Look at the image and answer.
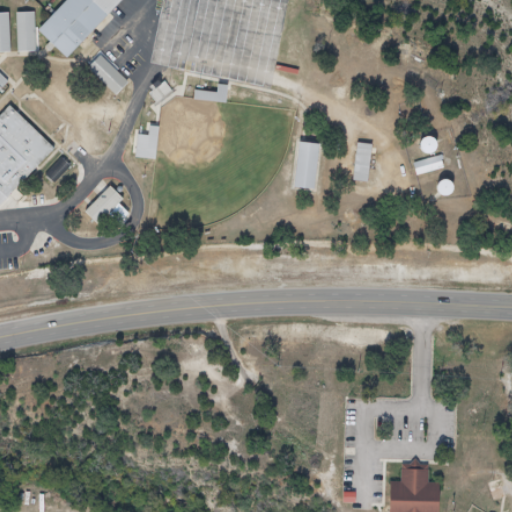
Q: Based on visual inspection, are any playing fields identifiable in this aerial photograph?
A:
Yes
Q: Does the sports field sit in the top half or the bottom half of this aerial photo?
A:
top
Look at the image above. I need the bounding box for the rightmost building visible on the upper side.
[414,154,446,175]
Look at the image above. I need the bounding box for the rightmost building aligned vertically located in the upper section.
[354,142,372,181]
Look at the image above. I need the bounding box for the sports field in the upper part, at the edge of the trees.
[150,98,296,229]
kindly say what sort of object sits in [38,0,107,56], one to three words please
building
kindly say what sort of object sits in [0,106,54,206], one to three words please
building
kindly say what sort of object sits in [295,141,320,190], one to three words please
barn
